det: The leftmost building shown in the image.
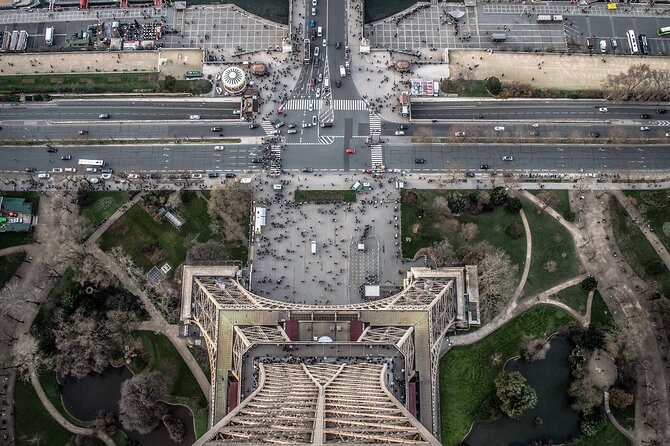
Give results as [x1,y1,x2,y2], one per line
[0,198,38,234]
